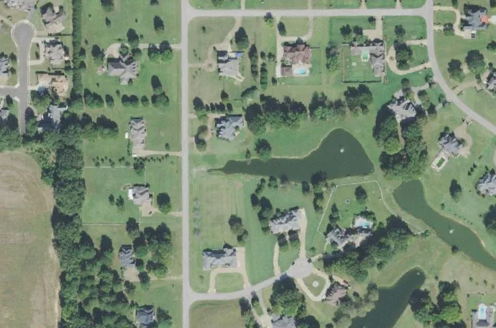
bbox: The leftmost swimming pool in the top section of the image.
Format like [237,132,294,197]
[292,64,309,77]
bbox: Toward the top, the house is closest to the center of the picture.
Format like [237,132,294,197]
[215,116,245,140]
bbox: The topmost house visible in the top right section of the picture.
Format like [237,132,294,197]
[462,7,488,31]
